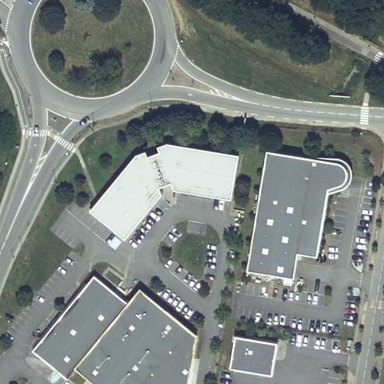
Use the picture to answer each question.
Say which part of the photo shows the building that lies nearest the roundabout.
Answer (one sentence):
The building that lies nearest the roundabout is in the center part of the image.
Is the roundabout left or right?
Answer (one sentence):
The roundabout appears in the left half of the scene.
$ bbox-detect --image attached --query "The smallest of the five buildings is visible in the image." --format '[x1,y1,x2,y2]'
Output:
[228,338,278,378]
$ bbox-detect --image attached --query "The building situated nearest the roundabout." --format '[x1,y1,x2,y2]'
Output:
[90,144,238,240]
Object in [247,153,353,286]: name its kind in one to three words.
building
